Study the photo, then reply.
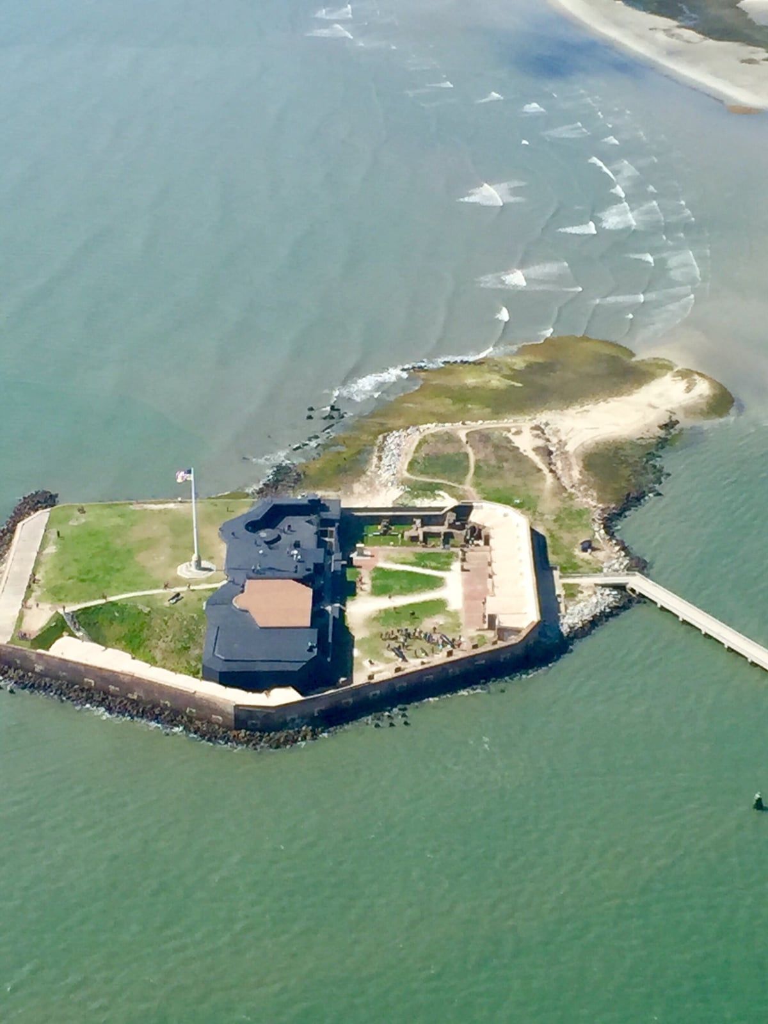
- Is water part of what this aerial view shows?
Yes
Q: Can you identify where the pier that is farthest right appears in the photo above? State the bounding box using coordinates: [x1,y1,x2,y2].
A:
[560,573,768,683]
